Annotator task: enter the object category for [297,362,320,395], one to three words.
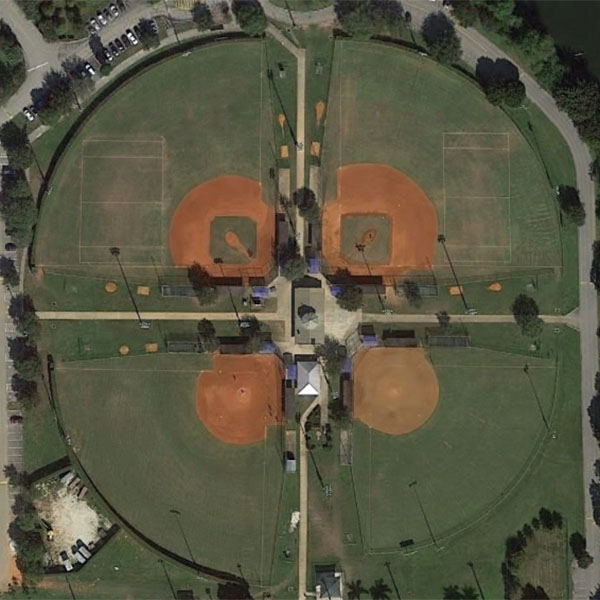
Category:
building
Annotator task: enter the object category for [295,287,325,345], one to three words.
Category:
building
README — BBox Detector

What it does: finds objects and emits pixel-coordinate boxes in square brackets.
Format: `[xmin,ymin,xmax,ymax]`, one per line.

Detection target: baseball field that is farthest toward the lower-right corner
[351,346,557,553]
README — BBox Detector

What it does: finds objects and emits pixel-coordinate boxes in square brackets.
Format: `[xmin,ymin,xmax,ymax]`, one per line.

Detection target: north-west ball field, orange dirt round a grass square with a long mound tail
[33,39,278,284]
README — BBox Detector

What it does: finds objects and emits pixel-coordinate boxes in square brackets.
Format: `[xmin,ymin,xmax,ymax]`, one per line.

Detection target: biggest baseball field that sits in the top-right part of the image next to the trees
[320,39,562,284]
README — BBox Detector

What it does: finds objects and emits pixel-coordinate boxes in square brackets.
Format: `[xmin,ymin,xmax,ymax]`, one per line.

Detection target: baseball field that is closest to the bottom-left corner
[49,353,285,588]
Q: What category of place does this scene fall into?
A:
sports ground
